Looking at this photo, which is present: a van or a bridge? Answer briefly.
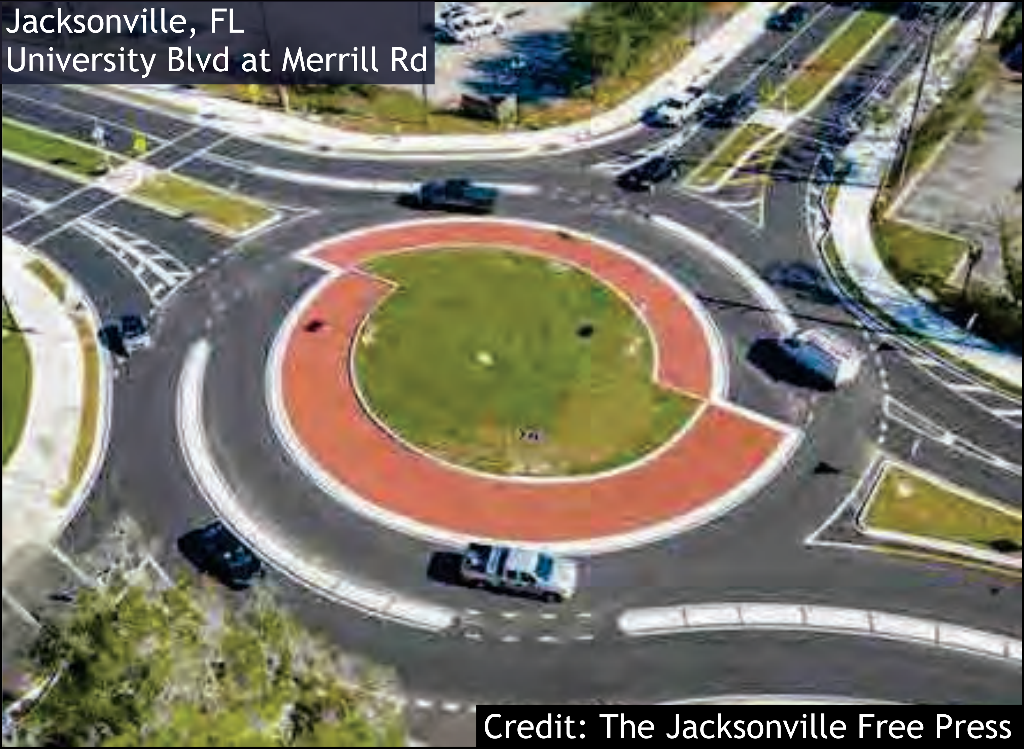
van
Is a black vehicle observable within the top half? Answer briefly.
Yes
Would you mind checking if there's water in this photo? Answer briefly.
No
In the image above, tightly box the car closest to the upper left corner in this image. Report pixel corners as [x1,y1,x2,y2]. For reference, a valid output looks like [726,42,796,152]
[101,308,156,356]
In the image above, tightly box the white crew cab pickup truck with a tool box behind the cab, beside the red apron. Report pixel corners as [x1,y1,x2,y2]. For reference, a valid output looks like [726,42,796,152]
[459,528,579,589]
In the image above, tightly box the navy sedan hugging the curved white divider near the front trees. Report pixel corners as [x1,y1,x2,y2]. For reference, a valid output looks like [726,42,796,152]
[187,518,271,589]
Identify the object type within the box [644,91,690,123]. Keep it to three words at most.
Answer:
car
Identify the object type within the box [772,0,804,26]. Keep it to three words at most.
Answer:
car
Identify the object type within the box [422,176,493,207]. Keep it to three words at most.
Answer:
truck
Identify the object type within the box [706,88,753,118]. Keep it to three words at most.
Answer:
truck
